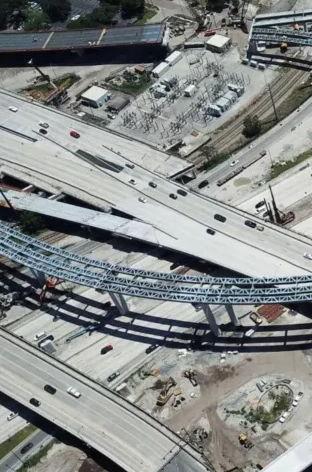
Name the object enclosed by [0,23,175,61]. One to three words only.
bridge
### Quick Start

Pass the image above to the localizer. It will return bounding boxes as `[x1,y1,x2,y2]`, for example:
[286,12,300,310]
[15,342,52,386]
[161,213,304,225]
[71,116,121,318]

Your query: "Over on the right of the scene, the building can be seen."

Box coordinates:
[205,33,233,54]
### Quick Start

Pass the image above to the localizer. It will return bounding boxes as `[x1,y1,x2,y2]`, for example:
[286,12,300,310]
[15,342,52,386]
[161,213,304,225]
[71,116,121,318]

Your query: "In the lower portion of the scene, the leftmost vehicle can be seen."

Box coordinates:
[2,409,20,422]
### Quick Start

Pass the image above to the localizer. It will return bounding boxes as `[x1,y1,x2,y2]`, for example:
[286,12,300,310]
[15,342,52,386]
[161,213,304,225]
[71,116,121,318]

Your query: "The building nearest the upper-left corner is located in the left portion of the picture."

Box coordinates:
[79,86,112,113]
